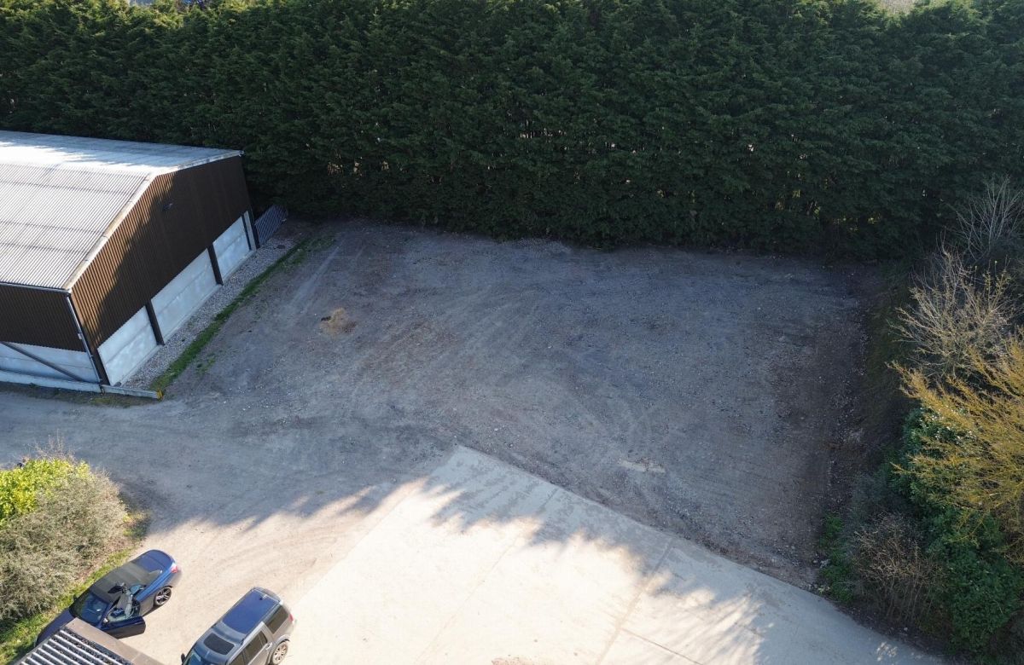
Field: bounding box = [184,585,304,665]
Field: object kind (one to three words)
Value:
car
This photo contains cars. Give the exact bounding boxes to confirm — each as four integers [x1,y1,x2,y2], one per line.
[47,549,182,638]
[184,585,304,665]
